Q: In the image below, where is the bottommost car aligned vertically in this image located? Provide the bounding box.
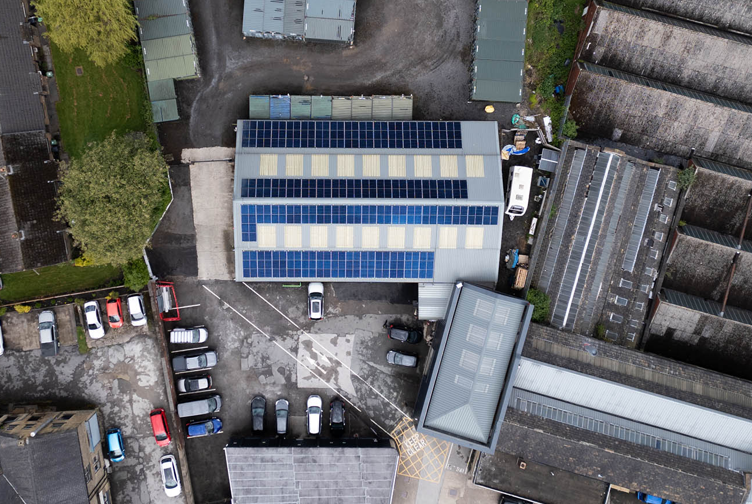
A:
[160,453,181,497]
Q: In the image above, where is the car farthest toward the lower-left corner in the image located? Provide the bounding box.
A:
[107,426,126,462]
